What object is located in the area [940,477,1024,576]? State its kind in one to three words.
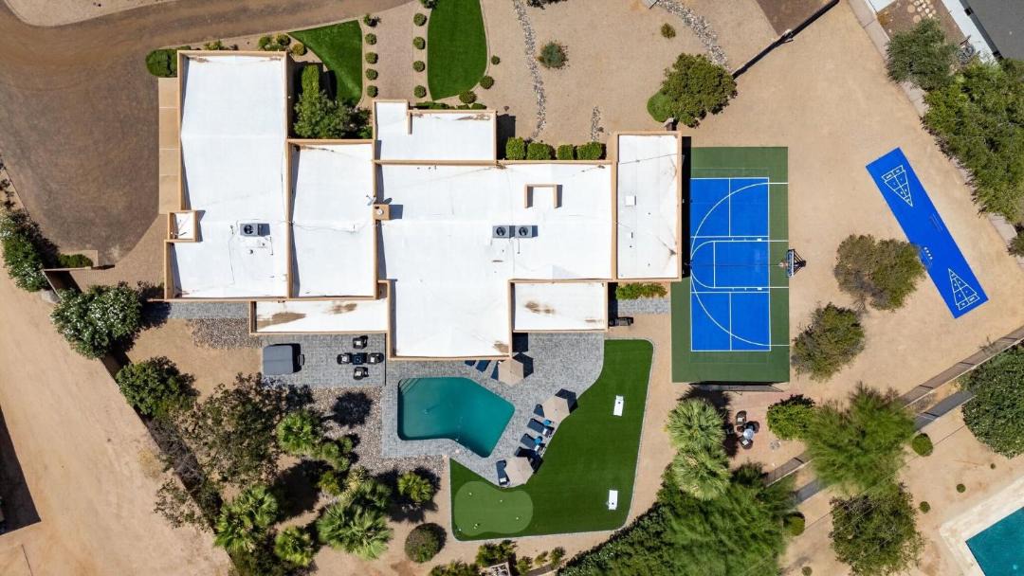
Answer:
swimming pool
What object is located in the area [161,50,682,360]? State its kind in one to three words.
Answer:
house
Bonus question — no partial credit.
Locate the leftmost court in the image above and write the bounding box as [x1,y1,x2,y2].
[670,147,789,383]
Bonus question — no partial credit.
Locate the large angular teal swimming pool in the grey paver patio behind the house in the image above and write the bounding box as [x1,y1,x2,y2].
[394,373,519,462]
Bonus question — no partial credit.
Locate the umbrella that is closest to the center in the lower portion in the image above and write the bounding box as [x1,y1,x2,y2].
[499,359,523,385]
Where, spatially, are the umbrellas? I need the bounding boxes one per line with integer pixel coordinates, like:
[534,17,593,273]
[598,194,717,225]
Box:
[506,455,531,484]
[542,396,569,423]
[499,359,523,385]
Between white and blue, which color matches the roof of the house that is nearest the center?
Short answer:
white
